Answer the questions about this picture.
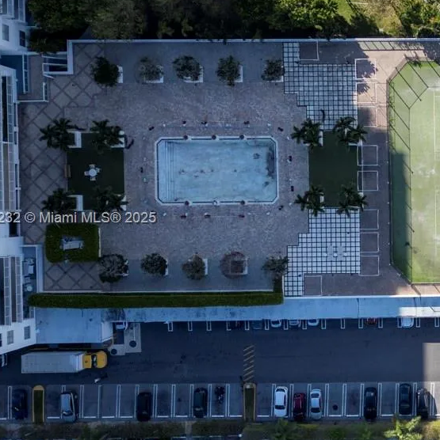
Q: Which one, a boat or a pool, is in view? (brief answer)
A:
pool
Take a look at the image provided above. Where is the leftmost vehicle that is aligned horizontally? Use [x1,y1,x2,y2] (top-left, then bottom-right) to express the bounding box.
[23,349,114,371]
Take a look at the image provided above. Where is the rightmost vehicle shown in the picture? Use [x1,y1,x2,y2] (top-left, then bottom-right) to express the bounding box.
[416,388,431,419]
